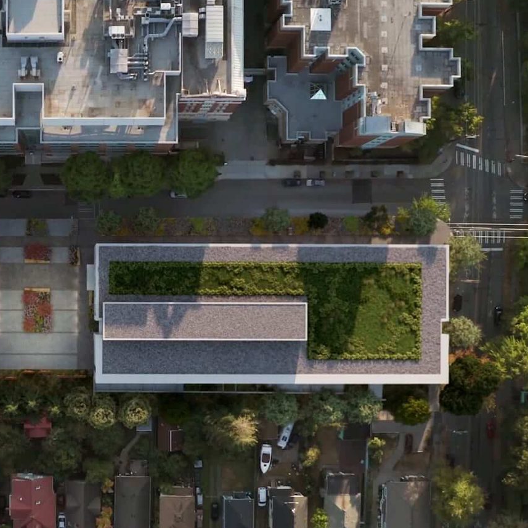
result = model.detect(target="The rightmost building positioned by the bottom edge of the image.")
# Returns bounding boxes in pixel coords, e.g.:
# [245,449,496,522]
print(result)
[375,473,429,528]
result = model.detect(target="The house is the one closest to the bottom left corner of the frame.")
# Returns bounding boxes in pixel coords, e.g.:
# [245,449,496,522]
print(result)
[9,470,56,528]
